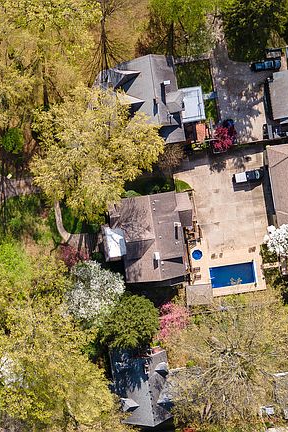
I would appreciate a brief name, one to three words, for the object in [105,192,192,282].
house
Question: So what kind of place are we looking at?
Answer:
residential area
